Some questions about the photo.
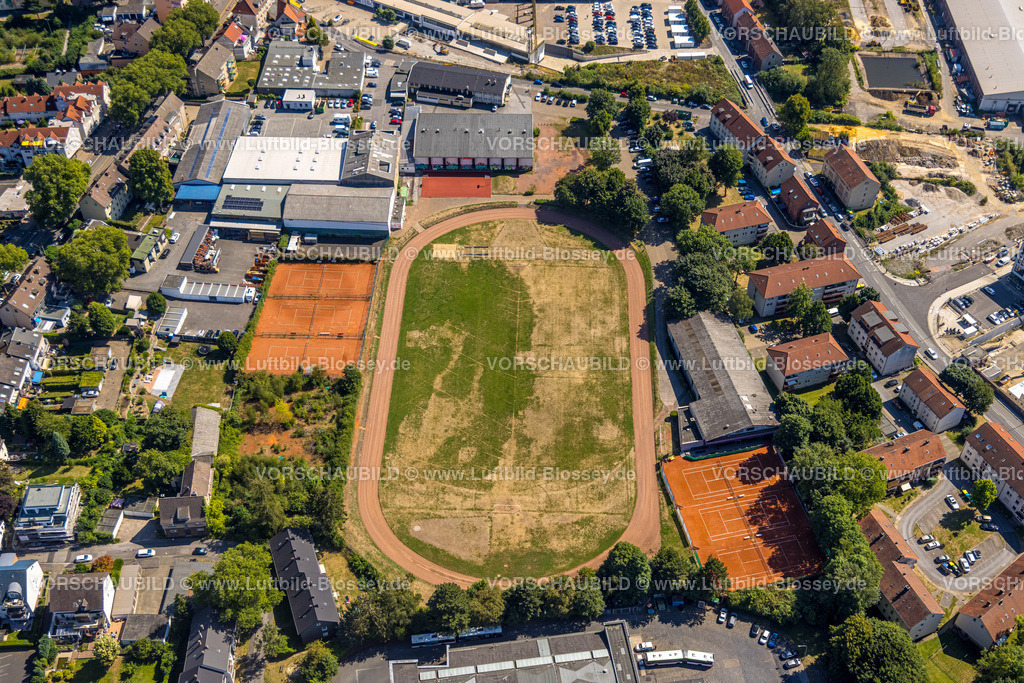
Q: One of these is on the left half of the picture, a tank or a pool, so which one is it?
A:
pool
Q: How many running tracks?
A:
1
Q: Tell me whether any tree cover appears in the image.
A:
Yes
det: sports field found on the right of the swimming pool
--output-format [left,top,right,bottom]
[379,218,636,578]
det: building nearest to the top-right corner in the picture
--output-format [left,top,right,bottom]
[935,0,1024,114]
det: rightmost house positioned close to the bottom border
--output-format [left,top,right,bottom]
[952,577,1024,652]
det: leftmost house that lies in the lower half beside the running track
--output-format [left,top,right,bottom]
[270,529,339,644]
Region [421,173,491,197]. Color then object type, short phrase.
red sports court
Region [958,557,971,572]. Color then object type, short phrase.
white vehicle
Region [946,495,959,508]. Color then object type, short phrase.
white vehicle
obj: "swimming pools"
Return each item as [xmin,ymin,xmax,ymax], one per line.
[147,367,180,398]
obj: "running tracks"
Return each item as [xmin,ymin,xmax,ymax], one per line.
[357,207,661,590]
